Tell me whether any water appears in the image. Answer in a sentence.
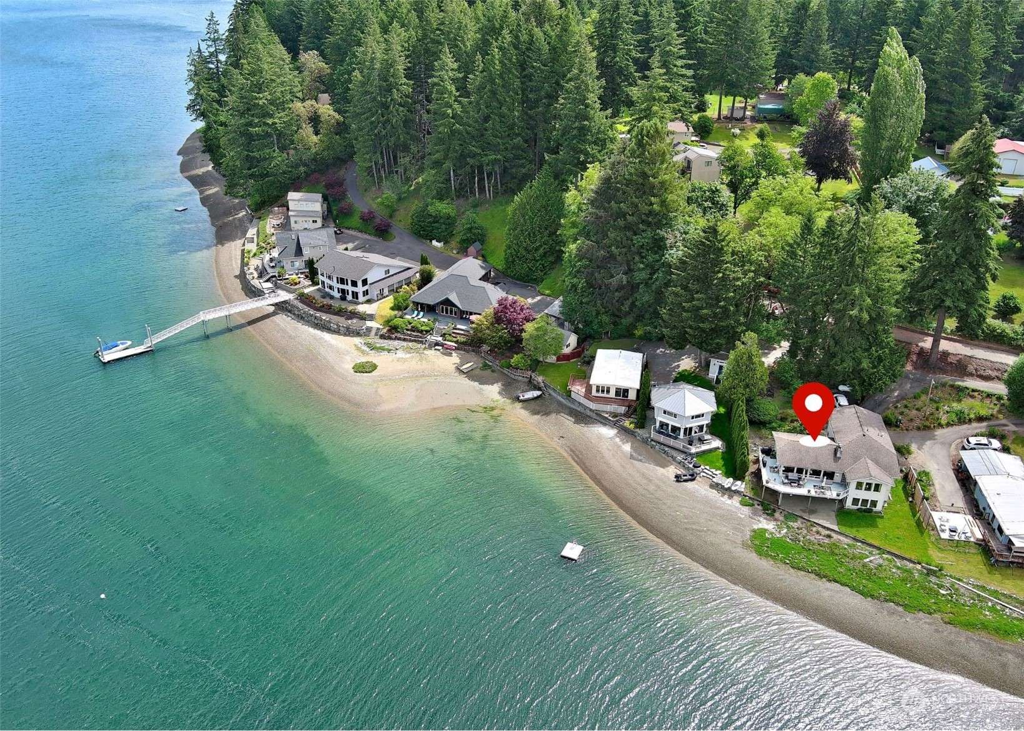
Yes, water shows up in the scene.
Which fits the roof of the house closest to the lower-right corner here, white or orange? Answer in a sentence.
The roof of the house closest to the lower-right corner is white.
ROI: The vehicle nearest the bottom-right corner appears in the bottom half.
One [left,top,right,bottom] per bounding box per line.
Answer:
[962,432,1007,451]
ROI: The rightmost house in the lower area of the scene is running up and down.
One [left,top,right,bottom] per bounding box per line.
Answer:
[957,453,1024,578]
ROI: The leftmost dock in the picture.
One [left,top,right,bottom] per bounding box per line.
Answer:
[89,321,154,365]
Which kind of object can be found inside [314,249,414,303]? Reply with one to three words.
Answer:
house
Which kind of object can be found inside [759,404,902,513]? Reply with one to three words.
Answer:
house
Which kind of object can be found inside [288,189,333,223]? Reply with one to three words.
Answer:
building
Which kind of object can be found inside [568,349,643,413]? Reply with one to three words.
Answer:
building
